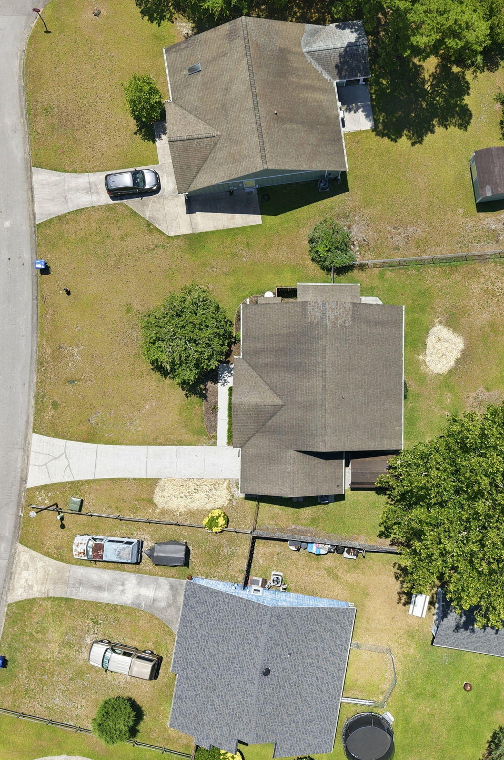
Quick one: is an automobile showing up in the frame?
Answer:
Yes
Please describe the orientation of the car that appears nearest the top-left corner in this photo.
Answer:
from side to side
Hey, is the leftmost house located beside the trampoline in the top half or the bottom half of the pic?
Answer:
bottom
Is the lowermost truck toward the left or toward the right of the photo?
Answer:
left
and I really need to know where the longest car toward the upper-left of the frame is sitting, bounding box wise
[102,167,163,200]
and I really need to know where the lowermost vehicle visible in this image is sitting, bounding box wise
[89,639,163,679]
